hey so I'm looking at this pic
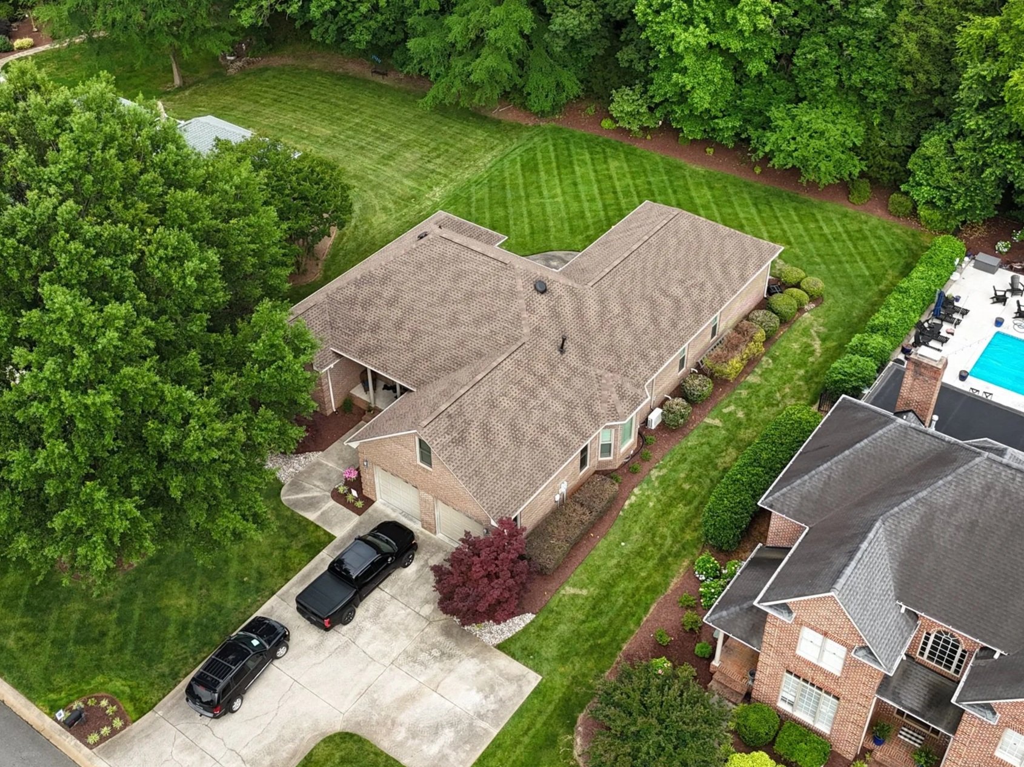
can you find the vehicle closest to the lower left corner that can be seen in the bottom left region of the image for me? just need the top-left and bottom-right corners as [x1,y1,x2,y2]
[178,611,290,723]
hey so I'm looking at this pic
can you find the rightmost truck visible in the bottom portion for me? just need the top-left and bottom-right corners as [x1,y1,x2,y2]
[292,518,419,633]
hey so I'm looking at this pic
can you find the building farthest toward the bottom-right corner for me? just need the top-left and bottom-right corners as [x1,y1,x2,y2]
[698,349,1024,767]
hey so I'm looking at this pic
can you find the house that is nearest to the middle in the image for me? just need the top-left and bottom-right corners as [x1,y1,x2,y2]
[262,200,786,556]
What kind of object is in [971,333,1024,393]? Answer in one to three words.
swimming pool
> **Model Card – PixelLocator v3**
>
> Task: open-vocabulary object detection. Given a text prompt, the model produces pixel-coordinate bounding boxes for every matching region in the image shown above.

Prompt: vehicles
[292,518,419,633]
[178,611,290,723]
